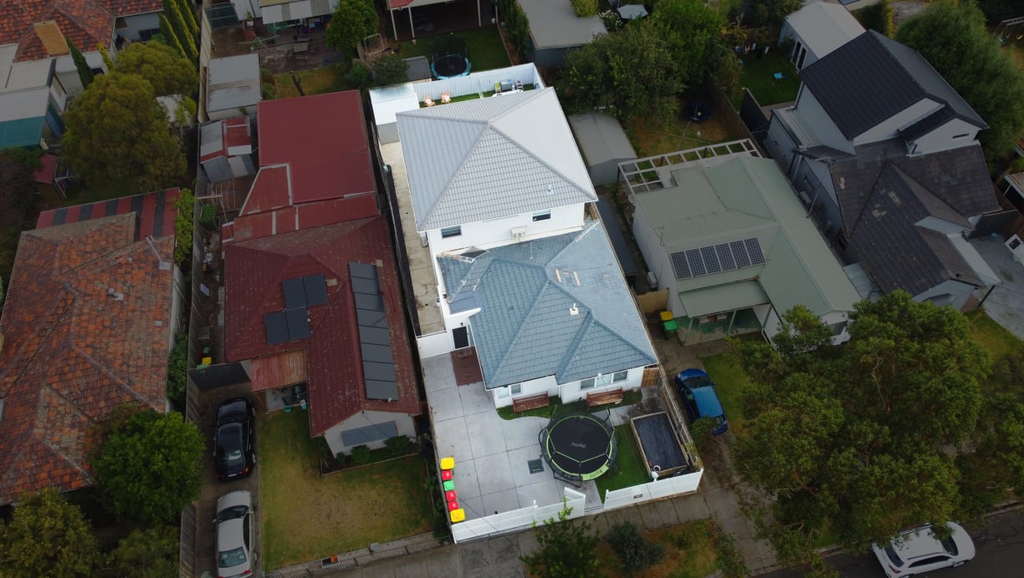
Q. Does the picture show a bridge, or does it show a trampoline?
trampoline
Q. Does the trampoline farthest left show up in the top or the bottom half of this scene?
top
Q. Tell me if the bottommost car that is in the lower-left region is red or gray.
gray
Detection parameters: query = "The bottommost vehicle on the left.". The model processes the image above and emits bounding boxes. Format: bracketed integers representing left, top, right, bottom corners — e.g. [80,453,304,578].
[210,486,262,578]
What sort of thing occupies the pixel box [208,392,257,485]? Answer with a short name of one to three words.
car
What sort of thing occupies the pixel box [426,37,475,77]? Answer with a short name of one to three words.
trampoline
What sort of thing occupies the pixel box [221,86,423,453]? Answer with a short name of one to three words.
house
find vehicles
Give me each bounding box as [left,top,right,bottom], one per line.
[210,486,262,578]
[208,392,257,485]
[673,363,732,439]
[870,523,979,578]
